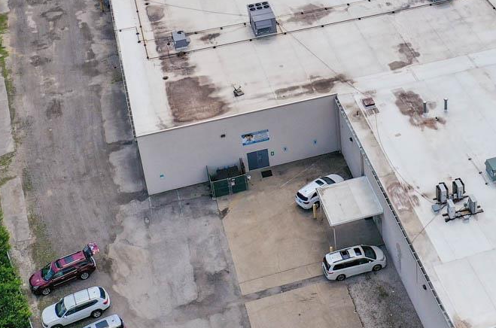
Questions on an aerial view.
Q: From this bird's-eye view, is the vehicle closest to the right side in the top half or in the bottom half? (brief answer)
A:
bottom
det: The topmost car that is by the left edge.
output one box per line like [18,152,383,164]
[24,235,105,294]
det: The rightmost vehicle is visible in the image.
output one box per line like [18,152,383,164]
[320,240,389,280]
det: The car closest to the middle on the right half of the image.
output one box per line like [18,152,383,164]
[290,170,343,210]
